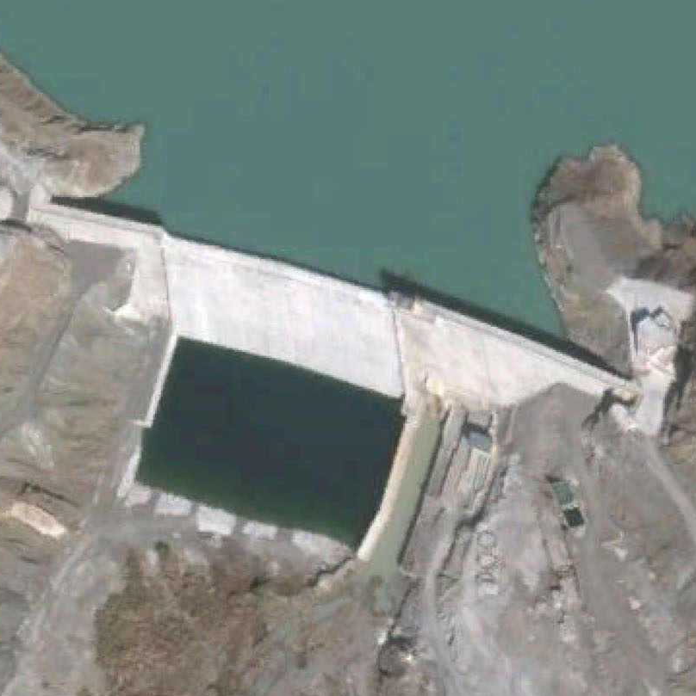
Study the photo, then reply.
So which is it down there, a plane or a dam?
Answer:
dam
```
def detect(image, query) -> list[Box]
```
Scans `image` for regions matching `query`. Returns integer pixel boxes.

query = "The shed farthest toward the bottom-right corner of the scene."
[564,509,586,536]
